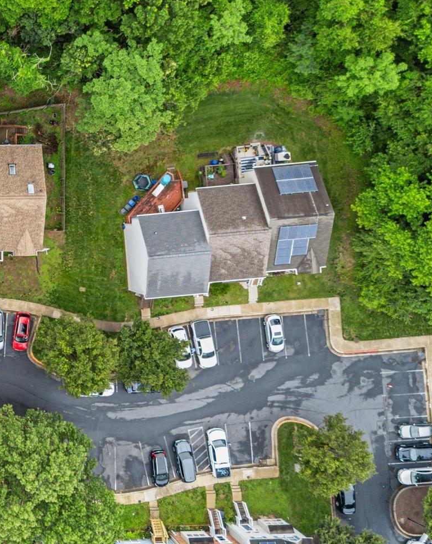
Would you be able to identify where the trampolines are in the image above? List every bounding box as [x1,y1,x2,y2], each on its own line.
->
[132,173,156,191]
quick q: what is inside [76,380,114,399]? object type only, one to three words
car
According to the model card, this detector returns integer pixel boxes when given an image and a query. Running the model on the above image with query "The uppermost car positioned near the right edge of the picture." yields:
[393,421,432,440]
